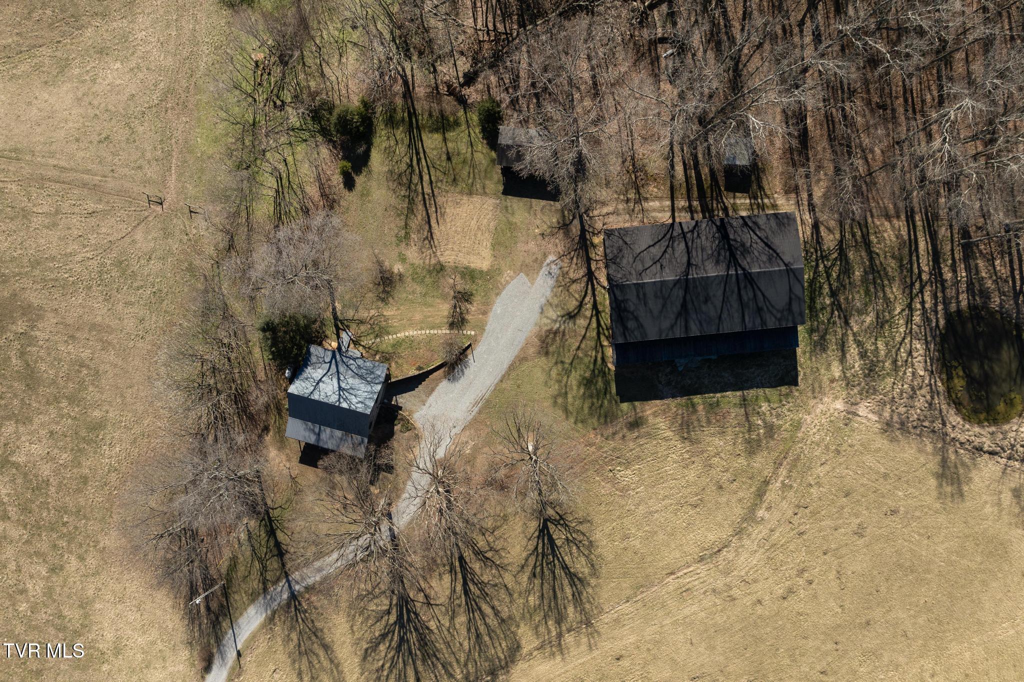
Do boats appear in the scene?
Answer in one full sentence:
No, the photo shows no boat.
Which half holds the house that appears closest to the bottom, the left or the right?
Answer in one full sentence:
You can find the house that appears closest to the bottom on the left side of the picture.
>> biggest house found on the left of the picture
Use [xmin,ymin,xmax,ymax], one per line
[286,347,387,457]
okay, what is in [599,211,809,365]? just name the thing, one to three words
barn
